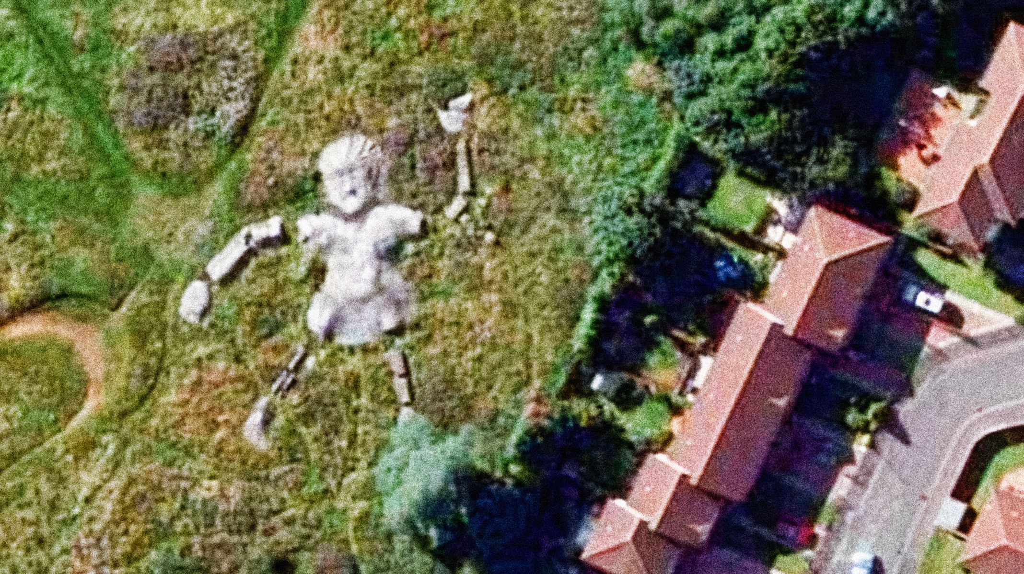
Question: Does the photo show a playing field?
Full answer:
No, the frame has no playing field in it.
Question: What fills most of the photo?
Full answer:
The largest share of the image is taken up by grass.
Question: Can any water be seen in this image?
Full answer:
No, water can't be seen anywhere here.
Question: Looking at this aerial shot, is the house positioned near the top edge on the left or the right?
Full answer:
The house positioned near the top edge appears in the right half of the scene.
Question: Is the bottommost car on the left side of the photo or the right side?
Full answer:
The bottommost car appears in the right half of the scene.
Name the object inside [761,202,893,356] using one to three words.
house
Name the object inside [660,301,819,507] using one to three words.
house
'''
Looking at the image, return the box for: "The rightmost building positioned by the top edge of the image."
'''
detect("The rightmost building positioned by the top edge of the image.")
[952,21,1024,181]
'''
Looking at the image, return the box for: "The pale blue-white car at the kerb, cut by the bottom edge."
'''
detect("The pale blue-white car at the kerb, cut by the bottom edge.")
[850,549,876,574]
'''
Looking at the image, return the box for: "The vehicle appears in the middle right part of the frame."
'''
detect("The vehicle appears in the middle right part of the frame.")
[900,282,948,318]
